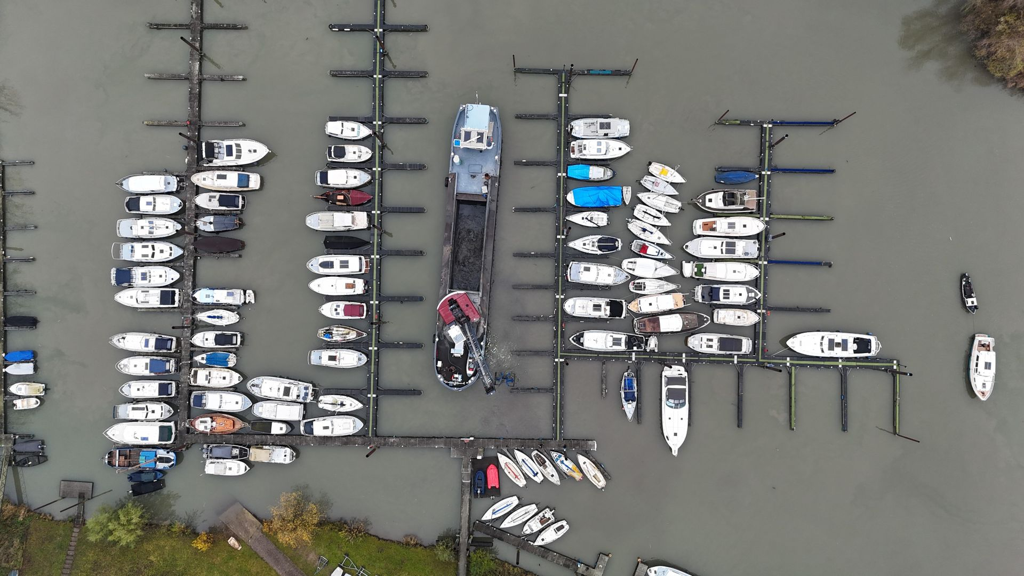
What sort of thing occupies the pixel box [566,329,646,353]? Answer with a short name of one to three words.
boat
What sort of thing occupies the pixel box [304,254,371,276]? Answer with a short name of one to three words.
boat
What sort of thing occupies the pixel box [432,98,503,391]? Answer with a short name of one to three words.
ship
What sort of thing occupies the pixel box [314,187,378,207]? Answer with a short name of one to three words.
vessel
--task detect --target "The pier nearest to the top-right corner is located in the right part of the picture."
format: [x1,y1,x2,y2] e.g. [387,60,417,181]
[711,113,836,353]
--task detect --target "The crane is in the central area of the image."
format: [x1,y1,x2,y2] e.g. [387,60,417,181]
[435,290,499,395]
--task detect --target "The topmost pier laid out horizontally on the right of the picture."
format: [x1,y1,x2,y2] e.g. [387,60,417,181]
[561,349,907,436]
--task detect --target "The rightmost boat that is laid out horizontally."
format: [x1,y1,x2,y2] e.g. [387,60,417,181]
[786,330,886,360]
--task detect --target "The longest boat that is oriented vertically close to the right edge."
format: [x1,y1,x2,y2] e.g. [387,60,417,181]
[966,332,999,402]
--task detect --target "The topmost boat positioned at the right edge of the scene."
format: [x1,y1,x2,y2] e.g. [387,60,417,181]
[958,270,979,314]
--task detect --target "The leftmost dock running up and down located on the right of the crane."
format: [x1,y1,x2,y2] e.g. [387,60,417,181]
[510,61,631,438]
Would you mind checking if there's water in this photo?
Yes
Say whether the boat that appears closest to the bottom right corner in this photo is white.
Yes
